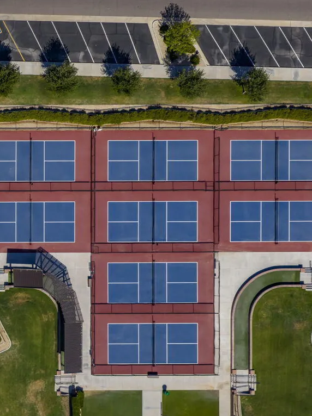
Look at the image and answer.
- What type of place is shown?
sports ground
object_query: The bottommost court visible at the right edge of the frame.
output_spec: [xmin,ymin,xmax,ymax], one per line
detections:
[216,190,312,252]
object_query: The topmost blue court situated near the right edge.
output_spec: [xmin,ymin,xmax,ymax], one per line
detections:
[216,130,312,190]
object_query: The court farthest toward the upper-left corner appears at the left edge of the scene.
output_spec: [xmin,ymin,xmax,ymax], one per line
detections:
[0,130,93,189]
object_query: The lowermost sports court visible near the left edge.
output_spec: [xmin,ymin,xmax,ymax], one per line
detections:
[0,190,93,252]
